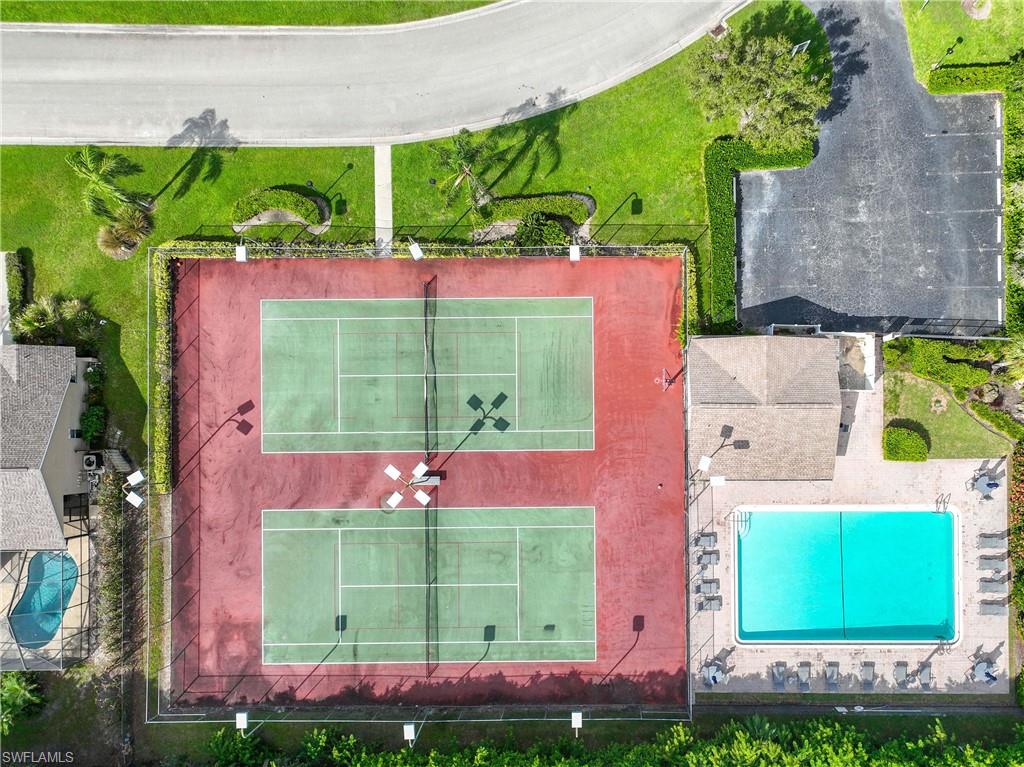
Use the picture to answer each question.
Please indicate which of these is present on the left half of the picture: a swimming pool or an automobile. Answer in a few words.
swimming pool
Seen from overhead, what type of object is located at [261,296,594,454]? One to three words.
tennis court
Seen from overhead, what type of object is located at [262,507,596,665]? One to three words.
tennis court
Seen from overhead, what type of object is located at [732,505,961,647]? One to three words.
swimming pool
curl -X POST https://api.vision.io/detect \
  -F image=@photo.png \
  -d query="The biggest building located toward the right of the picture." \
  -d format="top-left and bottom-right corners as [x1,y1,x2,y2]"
[688,332,840,481]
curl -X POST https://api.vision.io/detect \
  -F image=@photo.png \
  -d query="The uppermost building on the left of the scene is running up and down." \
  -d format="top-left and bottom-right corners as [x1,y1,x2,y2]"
[0,344,93,551]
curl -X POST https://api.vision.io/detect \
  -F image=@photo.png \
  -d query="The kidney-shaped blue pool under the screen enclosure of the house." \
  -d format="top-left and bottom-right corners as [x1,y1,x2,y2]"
[7,550,78,651]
